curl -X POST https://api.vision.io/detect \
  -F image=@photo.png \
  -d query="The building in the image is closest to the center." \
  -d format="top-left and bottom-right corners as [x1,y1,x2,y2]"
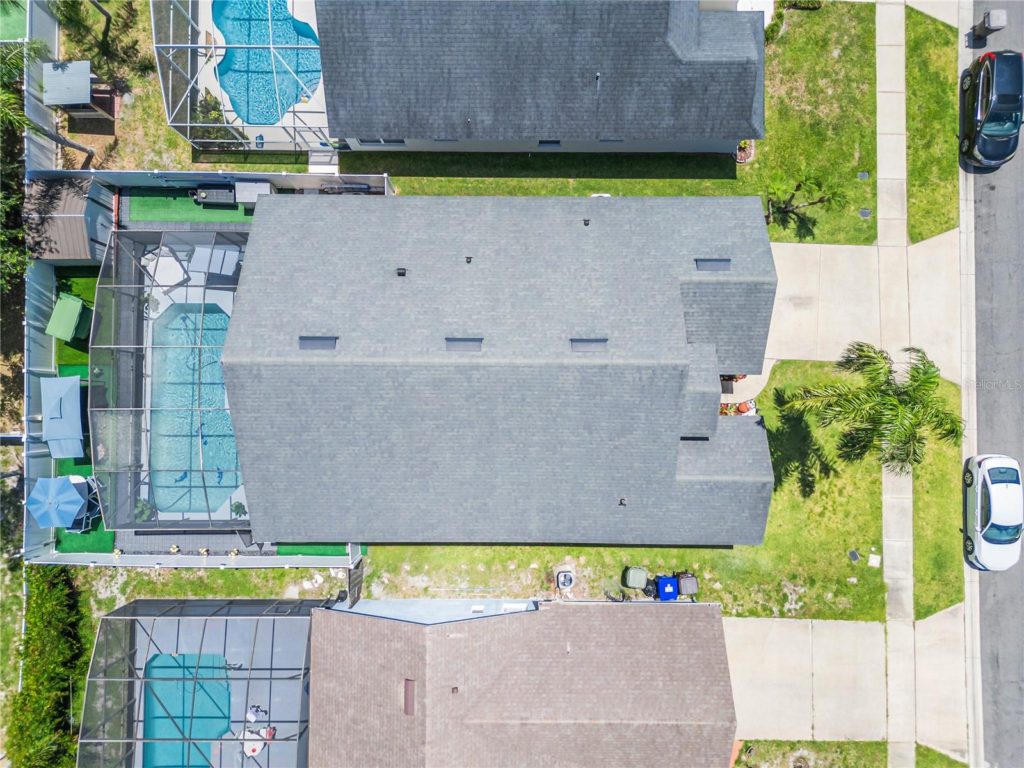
[220,195,781,544]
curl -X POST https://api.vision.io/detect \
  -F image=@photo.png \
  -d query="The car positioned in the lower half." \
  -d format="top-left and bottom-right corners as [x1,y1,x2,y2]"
[964,453,1024,569]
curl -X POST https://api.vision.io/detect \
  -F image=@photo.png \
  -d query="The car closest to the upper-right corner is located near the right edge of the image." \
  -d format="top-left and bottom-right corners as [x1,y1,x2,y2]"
[962,46,1024,173]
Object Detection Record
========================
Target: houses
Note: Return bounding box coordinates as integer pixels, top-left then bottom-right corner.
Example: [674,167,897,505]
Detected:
[311,599,738,768]
[220,195,781,544]
[315,0,766,153]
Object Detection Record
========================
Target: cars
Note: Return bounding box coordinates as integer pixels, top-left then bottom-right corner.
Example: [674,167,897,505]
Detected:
[964,453,1024,569]
[962,46,1024,173]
